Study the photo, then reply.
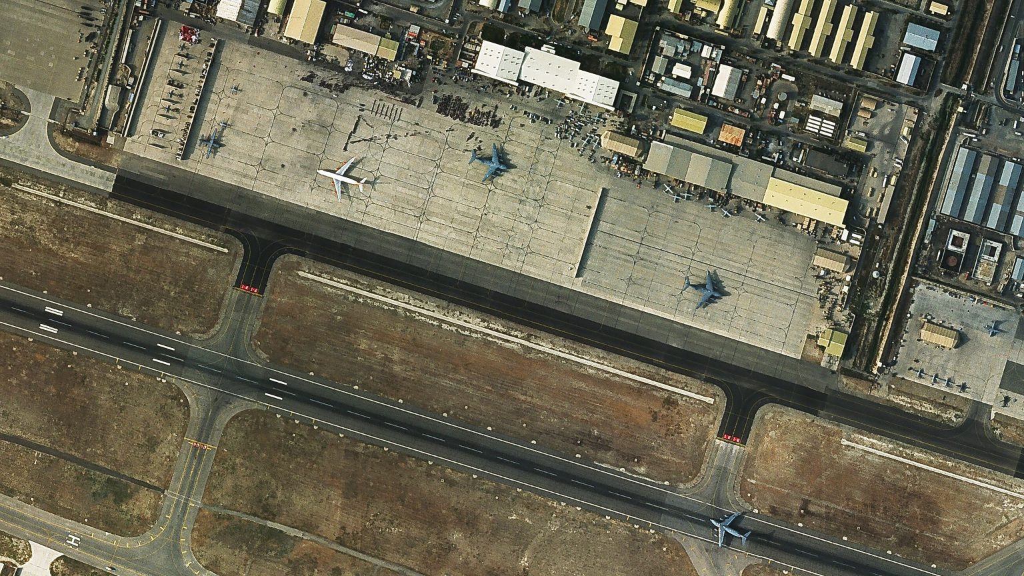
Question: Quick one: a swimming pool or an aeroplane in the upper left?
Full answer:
There is an aeroplane in the upper left.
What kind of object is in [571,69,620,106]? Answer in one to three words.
hangar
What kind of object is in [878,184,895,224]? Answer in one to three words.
shed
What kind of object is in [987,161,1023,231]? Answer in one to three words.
building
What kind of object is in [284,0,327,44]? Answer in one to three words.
hangar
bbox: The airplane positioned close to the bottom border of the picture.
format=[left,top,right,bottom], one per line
[710,512,749,548]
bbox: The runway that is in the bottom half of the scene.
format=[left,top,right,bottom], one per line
[0,280,961,576]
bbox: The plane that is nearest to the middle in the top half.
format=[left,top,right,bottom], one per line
[469,142,508,180]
